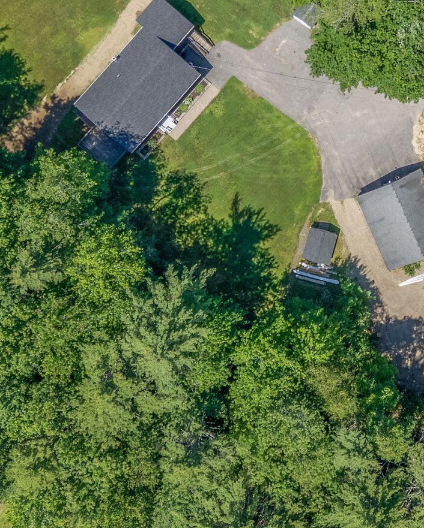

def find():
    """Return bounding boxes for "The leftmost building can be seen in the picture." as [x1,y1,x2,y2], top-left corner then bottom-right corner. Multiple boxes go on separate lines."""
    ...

[73,0,201,164]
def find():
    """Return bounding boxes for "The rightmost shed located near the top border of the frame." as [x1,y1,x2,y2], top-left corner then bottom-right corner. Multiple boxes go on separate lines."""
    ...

[293,0,324,29]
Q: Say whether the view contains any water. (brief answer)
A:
No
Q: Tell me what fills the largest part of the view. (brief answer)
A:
trees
